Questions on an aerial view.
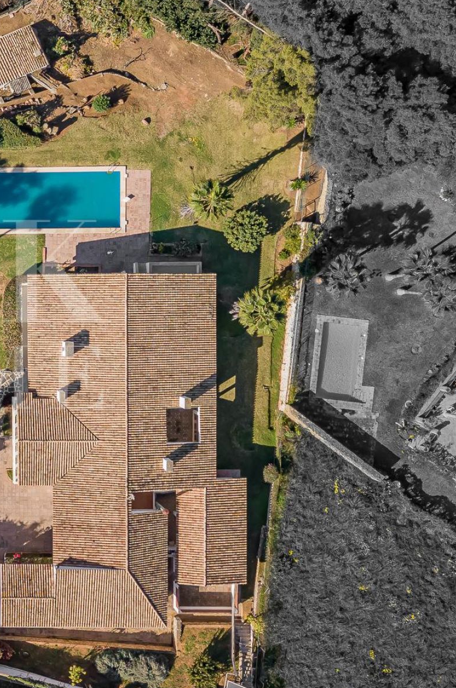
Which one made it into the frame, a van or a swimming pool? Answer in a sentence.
The image shows a swimming pool.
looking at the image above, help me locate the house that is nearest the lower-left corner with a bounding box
[0,261,247,650]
